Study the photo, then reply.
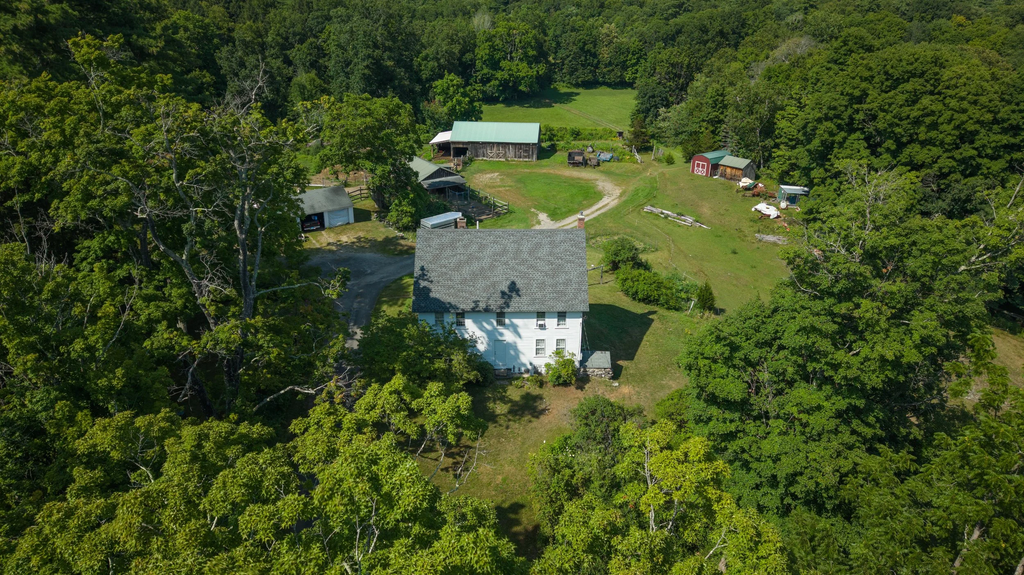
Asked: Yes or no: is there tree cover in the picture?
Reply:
Yes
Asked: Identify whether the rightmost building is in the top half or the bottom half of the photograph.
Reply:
top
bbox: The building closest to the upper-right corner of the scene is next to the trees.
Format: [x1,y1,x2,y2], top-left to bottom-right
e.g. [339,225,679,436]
[784,181,813,208]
